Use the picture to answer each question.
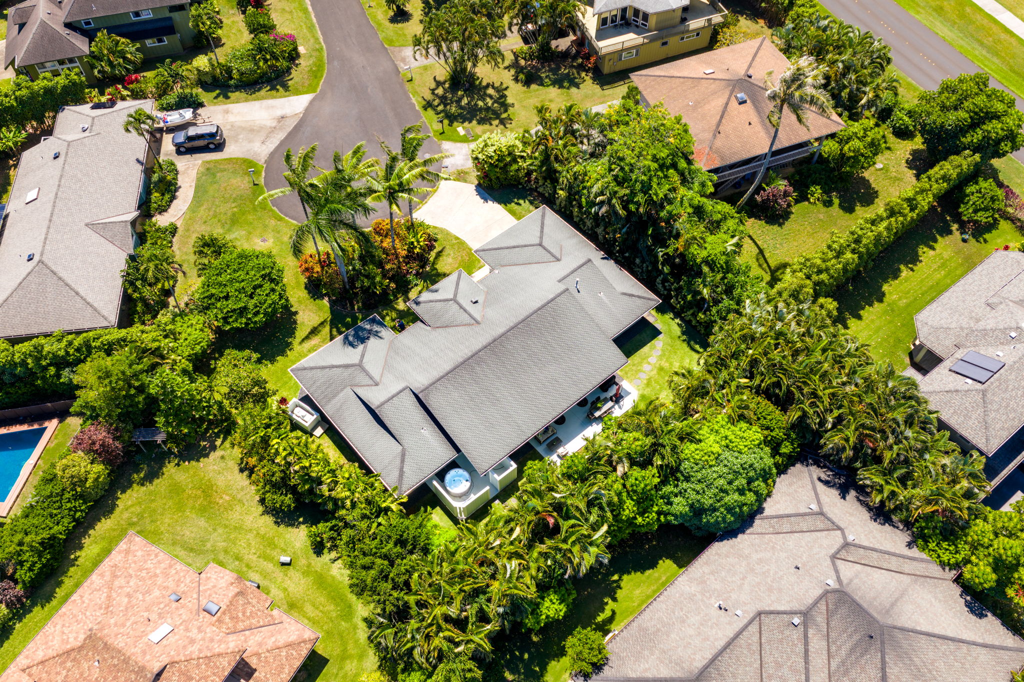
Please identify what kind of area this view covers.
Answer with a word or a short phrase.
residential area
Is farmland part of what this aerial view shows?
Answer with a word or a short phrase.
No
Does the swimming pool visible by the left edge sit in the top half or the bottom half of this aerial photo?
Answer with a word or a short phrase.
bottom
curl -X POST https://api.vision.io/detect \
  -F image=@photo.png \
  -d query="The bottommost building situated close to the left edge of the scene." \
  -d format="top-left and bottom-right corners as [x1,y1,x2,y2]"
[0,531,322,682]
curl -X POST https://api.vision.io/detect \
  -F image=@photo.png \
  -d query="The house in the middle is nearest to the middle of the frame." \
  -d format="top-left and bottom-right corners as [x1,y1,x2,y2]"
[290,204,661,499]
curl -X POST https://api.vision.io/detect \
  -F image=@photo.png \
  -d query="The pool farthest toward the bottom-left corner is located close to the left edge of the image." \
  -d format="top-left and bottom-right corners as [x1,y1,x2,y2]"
[0,414,64,517]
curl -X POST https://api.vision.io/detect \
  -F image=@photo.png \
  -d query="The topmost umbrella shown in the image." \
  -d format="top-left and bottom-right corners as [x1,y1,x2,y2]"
[615,384,628,411]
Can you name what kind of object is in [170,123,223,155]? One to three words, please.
car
